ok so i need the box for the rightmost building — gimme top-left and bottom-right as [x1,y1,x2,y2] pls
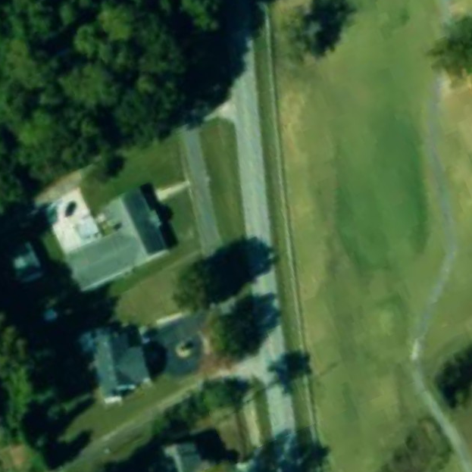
[153,442,189,472]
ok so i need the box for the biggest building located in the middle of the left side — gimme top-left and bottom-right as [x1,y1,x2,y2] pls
[66,192,167,293]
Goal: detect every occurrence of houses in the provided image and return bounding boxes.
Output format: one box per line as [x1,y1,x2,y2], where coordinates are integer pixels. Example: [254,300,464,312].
[66,192,167,293]
[95,330,151,400]
[153,442,189,472]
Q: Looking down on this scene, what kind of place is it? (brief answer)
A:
golf course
